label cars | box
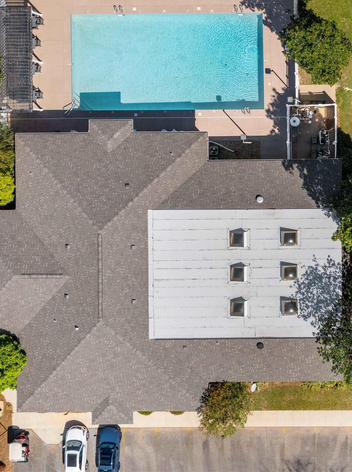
[60,429,87,472]
[94,429,120,472]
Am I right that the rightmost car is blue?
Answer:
Yes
